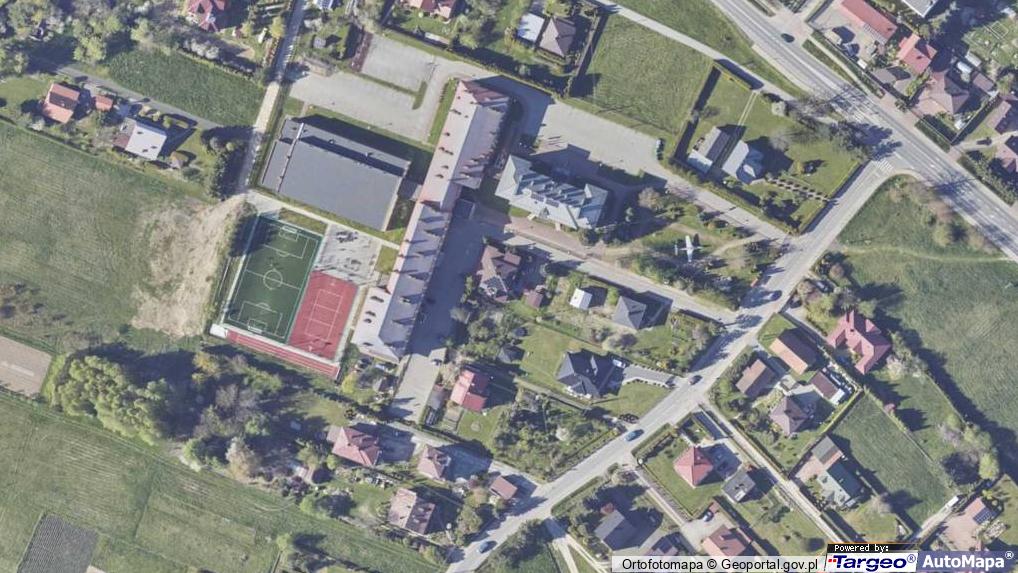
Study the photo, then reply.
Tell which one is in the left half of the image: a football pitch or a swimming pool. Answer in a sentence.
Visible in the left half of the image is a football pitch.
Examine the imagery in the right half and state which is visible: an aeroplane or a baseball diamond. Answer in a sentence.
Looking in the right half, you will find an aeroplane.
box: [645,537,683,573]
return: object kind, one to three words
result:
house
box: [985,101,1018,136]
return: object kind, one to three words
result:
house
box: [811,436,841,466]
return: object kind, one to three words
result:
building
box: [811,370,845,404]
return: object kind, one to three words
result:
building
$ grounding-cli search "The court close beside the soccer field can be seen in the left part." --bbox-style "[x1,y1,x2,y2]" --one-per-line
[288,271,359,360]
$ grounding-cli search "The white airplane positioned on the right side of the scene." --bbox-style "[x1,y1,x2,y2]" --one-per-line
[676,236,703,262]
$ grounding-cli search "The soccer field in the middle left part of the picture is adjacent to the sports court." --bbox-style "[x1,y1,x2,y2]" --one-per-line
[223,215,323,343]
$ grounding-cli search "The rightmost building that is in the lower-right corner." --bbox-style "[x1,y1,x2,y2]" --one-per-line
[969,497,998,525]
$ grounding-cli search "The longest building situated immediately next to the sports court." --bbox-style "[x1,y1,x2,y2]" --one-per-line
[352,81,509,362]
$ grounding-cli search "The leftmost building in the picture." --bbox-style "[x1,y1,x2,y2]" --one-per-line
[43,83,80,123]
